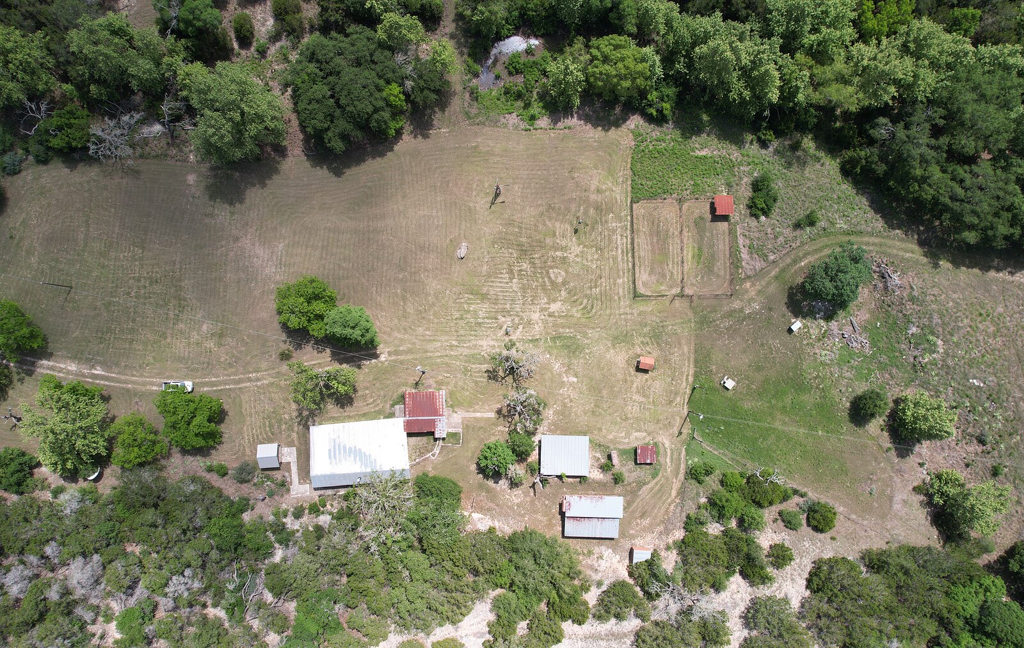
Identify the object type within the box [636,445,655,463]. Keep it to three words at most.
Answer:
shed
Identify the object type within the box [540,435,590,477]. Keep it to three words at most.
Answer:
shed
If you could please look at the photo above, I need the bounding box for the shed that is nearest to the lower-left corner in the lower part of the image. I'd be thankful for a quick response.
[257,443,283,469]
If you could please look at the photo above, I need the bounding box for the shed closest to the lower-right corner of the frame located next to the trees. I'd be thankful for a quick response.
[630,544,651,566]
